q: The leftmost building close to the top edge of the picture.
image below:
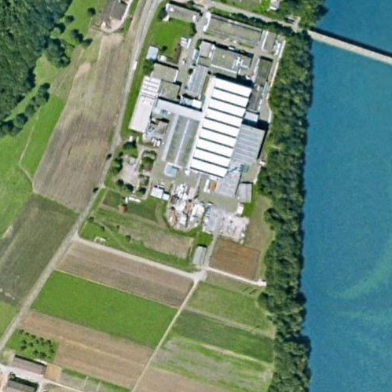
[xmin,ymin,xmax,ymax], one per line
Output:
[100,0,127,19]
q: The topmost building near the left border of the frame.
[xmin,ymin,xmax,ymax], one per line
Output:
[12,354,46,376]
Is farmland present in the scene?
Yes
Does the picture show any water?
Yes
